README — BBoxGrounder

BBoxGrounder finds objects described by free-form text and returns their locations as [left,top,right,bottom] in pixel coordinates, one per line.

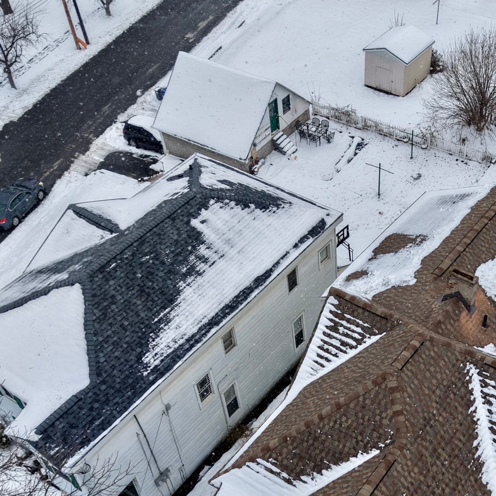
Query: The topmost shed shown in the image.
[362,24,433,95]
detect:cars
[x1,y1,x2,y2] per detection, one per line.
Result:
[125,112,184,156]
[0,174,46,229]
